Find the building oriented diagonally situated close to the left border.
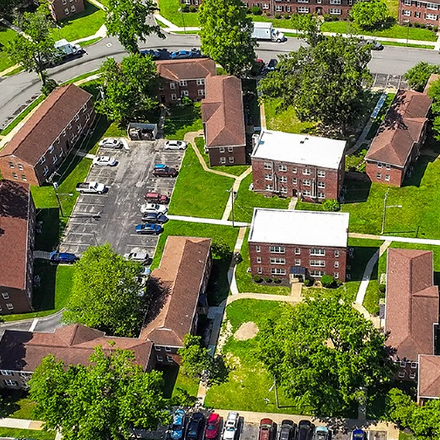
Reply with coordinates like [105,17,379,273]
[0,84,94,186]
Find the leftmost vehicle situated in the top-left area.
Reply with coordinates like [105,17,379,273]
[52,42,84,59]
